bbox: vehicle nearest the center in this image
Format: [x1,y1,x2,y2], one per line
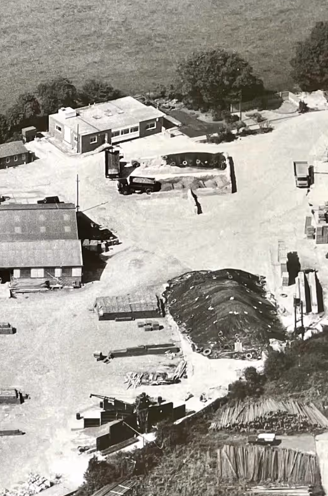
[120,173,164,193]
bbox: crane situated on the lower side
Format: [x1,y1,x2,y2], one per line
[93,389,154,422]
